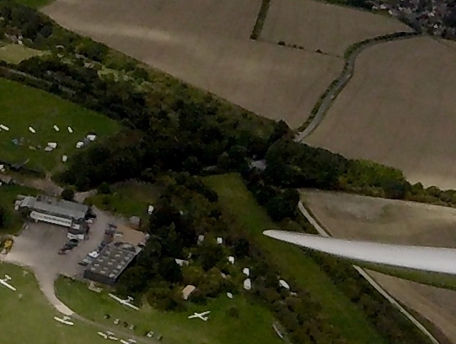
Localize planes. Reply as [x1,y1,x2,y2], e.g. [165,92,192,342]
[54,315,74,326]
[264,230,456,275]
[0,274,14,288]
[188,312,210,320]
[109,293,138,311]
[97,330,117,339]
